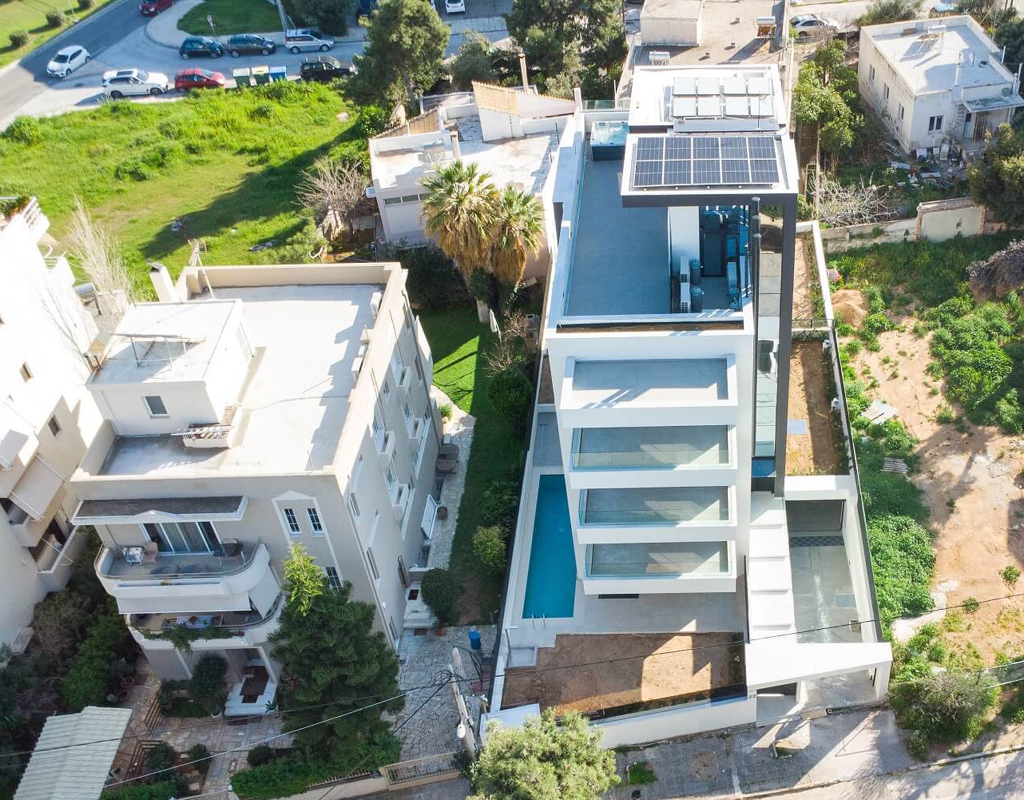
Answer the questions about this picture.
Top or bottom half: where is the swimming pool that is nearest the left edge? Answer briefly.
bottom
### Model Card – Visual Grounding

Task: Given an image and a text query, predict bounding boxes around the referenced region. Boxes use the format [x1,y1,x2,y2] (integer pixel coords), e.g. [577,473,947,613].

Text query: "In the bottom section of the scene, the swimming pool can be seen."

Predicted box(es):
[515,470,578,628]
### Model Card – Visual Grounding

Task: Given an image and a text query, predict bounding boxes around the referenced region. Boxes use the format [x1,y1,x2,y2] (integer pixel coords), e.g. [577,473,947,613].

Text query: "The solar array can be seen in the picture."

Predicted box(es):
[635,137,779,191]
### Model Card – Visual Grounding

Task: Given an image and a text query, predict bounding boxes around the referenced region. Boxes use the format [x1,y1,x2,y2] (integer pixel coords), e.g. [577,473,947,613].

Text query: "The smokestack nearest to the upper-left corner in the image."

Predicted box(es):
[130,242,172,297]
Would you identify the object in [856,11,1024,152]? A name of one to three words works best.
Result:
house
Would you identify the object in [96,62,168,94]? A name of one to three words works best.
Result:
car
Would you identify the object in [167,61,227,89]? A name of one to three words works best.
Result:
car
